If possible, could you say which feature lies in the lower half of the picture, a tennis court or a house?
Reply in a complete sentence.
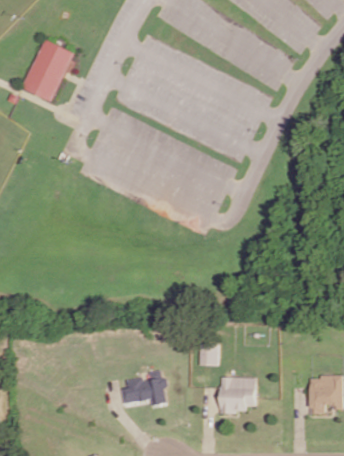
What appears in the lower half of the picture is a house.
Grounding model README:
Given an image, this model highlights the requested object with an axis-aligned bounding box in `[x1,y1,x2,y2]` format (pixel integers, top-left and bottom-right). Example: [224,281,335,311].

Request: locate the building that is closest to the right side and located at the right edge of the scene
[309,376,344,417]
